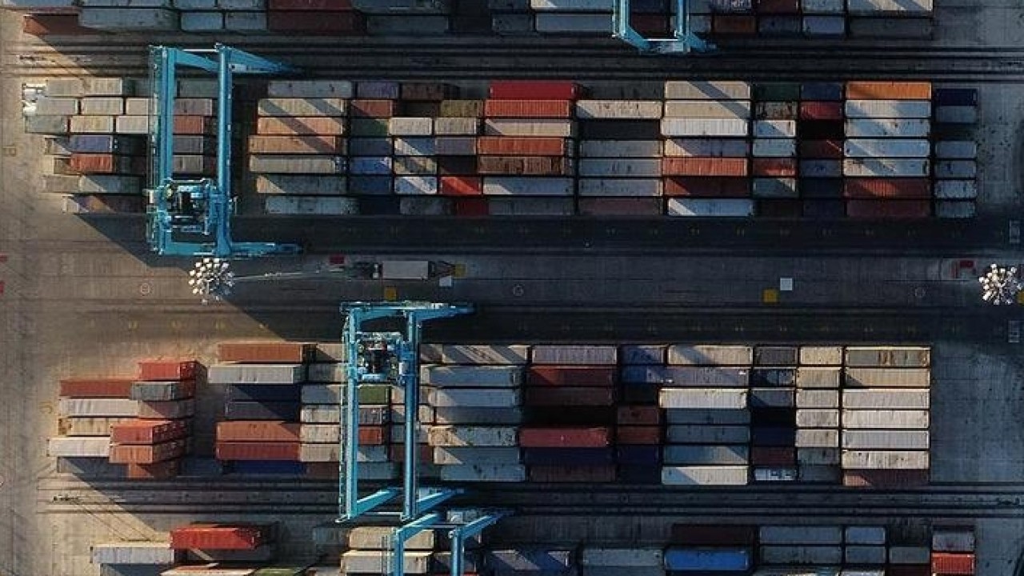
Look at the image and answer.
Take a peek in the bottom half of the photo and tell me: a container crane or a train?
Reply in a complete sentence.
It is a container crane that can be seen in the bottom half of the photo.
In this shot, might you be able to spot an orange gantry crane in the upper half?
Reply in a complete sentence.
No, in the upper half there is no orange gantry crane.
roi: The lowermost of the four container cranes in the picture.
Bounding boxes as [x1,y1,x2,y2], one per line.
[383,507,516,576]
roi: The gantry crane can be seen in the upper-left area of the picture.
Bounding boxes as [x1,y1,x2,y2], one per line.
[146,42,304,259]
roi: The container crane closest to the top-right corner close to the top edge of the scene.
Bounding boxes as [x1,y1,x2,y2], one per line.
[610,0,722,55]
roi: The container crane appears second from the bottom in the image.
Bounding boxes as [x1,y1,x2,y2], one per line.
[336,299,476,523]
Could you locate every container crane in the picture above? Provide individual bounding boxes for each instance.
[336,299,476,523]
[383,507,516,576]
[146,42,304,259]
[610,0,722,55]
